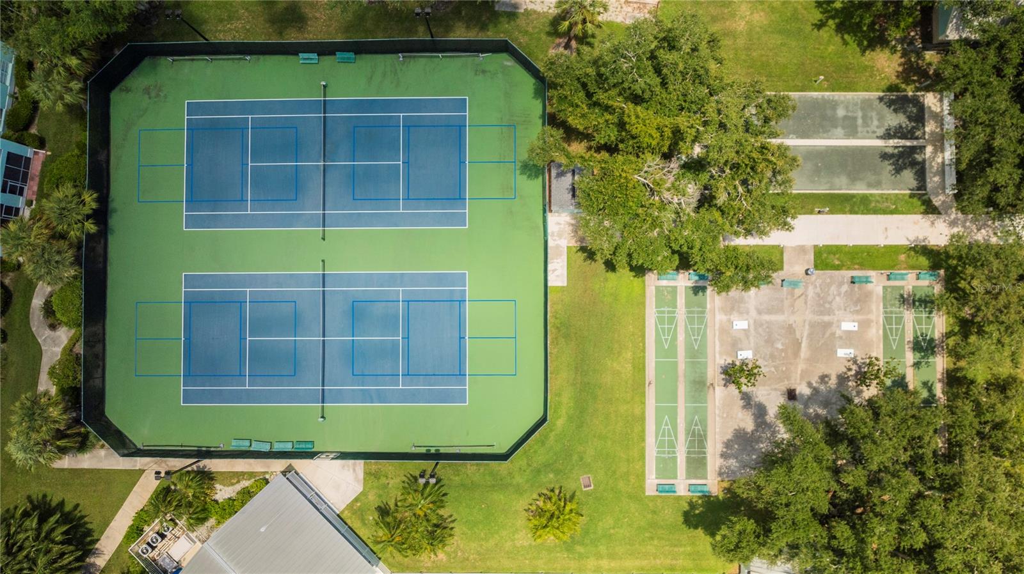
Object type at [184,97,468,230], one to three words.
tennis court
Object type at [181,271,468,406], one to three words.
tennis court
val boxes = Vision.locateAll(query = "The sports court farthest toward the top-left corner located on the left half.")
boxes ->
[138,127,298,202]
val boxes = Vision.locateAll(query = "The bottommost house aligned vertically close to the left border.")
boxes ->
[0,138,34,220]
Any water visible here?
No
